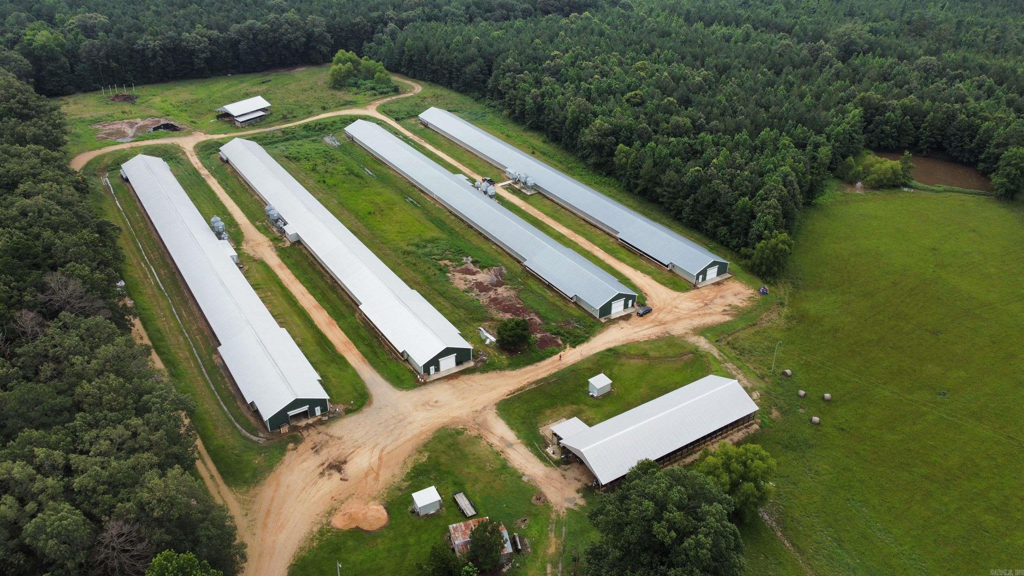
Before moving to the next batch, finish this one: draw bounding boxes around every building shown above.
[220,99,275,125]
[419,107,732,288]
[121,154,330,430]
[588,373,612,397]
[344,119,638,323]
[411,485,440,517]
[550,375,759,495]
[450,517,507,568]
[220,138,475,381]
